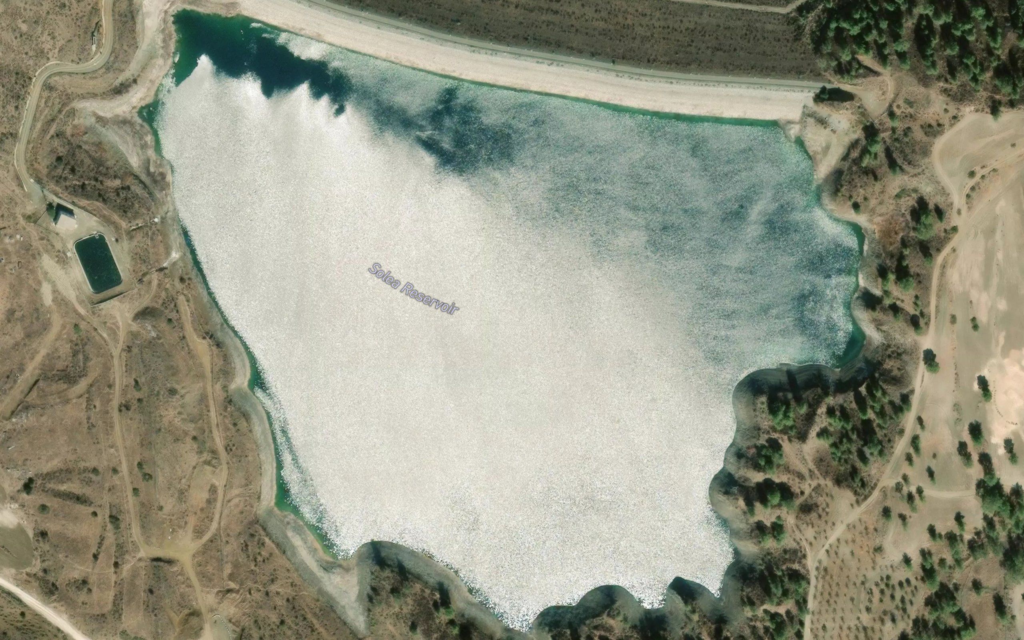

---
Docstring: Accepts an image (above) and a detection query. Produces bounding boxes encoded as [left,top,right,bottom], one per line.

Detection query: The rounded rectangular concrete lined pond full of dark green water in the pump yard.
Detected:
[73,232,123,294]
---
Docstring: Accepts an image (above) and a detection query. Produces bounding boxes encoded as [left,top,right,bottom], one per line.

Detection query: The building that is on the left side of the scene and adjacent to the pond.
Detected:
[55,210,78,231]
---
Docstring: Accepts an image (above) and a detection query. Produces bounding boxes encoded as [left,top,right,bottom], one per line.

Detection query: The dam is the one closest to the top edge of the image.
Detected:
[226,0,826,141]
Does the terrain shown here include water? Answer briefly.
Yes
